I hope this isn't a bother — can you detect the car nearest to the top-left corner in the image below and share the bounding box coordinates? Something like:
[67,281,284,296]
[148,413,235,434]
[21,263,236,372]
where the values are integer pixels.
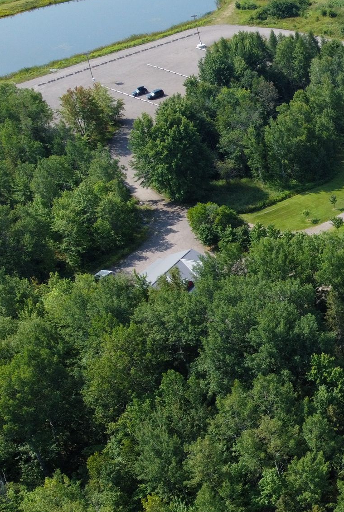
[129,82,148,96]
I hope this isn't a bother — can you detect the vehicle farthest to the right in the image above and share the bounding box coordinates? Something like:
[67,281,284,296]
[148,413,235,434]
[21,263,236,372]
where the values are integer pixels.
[146,87,165,100]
